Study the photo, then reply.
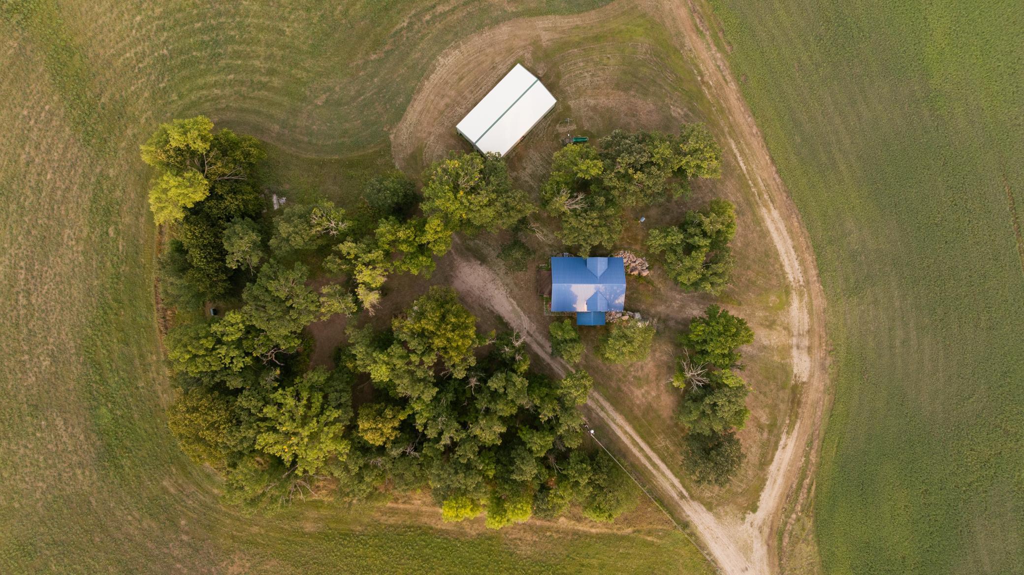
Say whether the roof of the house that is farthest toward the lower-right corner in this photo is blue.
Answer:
Yes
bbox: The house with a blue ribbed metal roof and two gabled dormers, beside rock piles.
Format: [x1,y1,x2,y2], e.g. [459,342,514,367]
[539,257,627,328]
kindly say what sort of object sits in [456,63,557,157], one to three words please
barn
